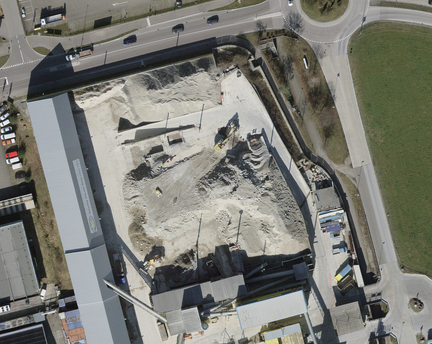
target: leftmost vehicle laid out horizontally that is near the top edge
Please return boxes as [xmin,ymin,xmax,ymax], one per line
[40,14,66,26]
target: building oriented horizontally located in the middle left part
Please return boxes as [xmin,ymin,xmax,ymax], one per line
[0,194,36,216]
